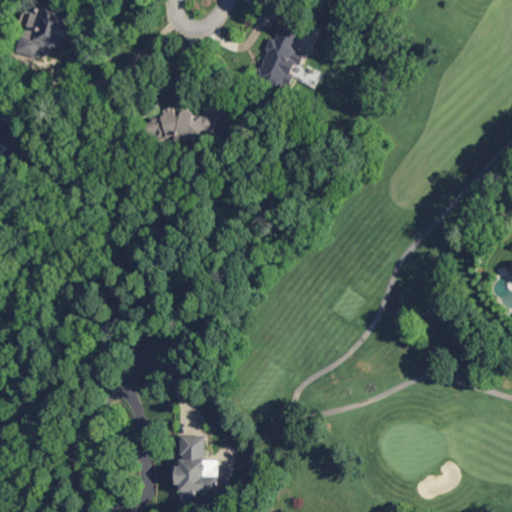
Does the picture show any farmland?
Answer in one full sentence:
No, the scene doesn't show any farmland.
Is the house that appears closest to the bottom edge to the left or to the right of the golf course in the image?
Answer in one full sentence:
The golf course has the house that appears closest to the bottom edge on its left side.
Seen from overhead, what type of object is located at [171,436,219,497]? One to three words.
house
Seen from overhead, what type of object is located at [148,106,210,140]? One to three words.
house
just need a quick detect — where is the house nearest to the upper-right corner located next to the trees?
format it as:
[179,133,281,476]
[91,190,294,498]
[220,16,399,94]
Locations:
[256,26,321,84]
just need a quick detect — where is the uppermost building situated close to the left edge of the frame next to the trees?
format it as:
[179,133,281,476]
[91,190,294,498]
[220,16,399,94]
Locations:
[15,6,56,56]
